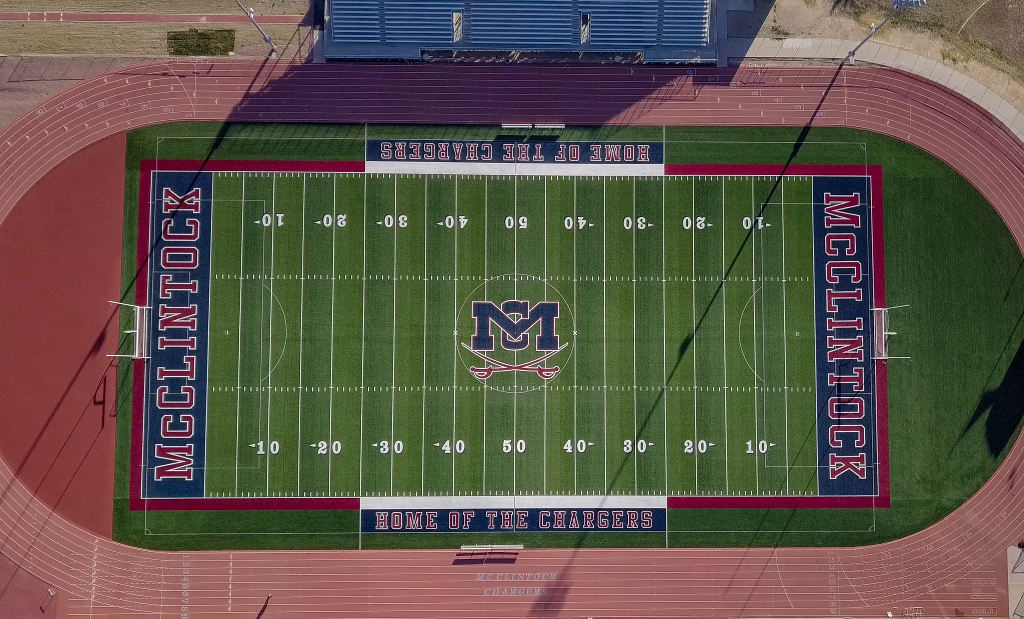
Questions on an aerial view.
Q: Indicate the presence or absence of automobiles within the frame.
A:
No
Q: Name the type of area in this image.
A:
sports ground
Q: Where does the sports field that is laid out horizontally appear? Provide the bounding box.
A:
[112,121,1024,550]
